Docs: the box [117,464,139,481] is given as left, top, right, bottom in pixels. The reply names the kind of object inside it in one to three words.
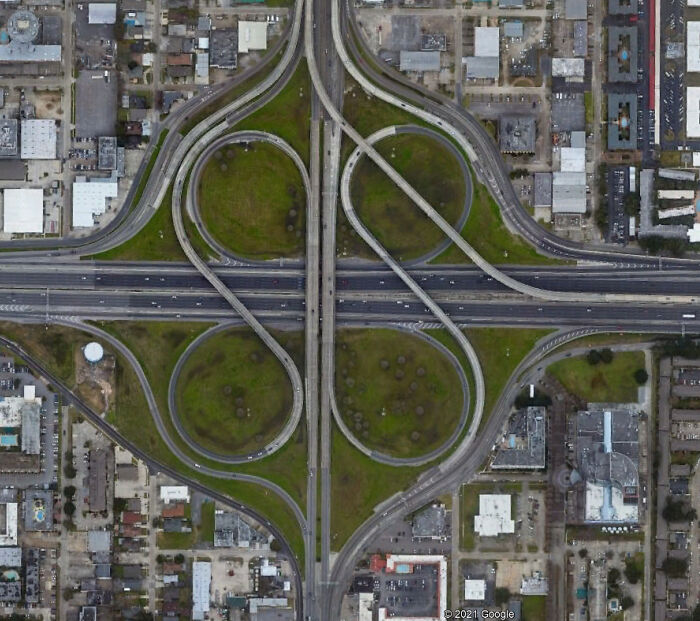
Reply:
house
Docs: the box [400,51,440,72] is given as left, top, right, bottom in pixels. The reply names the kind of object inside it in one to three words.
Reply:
shed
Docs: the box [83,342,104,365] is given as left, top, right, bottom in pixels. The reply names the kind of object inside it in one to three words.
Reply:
water tower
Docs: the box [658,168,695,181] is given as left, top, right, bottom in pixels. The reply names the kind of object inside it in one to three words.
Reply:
building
